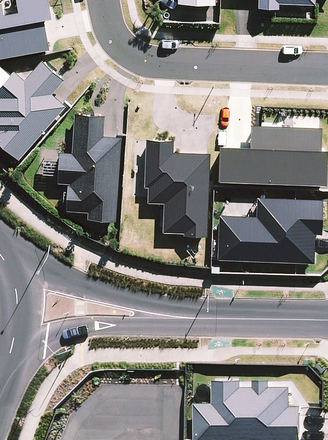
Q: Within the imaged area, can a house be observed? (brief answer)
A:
Yes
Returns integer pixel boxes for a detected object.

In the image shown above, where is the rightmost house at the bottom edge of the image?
[192,380,299,440]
